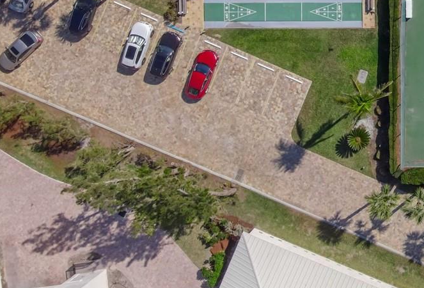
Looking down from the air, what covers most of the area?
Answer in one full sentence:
The bulk of the photo consists of paved ground.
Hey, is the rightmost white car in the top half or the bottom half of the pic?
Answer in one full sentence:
Seen from above, the rightmost white car lies in the top half of the view.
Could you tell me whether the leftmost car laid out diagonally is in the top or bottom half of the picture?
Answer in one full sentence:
The leftmost car laid out diagonally is in the top half of the image.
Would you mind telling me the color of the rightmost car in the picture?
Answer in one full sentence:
From above, the rightmost car appears red.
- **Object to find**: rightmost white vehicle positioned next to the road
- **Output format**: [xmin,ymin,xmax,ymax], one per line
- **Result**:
[117,23,152,72]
